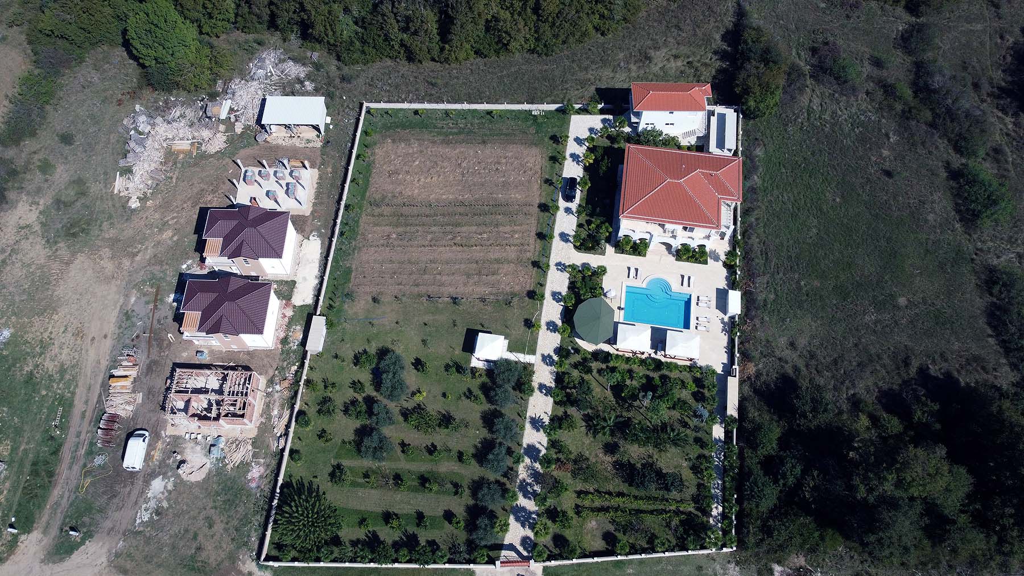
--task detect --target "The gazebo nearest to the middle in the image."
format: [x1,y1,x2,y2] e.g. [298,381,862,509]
[471,331,512,370]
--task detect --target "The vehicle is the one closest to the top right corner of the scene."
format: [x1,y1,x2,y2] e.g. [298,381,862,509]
[565,177,578,203]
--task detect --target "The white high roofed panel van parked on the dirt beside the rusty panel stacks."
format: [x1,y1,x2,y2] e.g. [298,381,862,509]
[116,425,148,471]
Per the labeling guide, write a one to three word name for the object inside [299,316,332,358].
building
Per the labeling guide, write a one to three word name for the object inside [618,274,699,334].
swimming pool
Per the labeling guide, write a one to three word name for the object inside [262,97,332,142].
shed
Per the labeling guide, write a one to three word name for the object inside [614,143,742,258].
house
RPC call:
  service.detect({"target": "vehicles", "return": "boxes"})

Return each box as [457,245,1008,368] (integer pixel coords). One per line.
[565,177,578,203]
[116,425,148,471]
